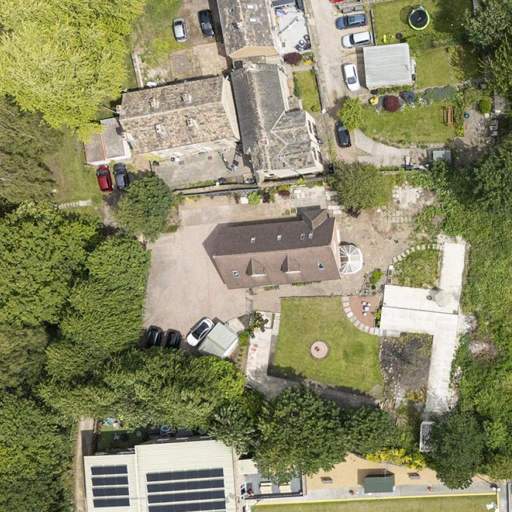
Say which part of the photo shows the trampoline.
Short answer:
top right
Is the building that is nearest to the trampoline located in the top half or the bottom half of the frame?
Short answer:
top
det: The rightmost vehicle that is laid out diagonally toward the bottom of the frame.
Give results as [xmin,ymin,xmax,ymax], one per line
[188,317,214,346]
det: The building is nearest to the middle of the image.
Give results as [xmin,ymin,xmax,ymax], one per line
[213,207,343,290]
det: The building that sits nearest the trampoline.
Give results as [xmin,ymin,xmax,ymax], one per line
[363,41,413,93]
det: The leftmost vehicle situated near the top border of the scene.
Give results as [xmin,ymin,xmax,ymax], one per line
[172,17,189,44]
